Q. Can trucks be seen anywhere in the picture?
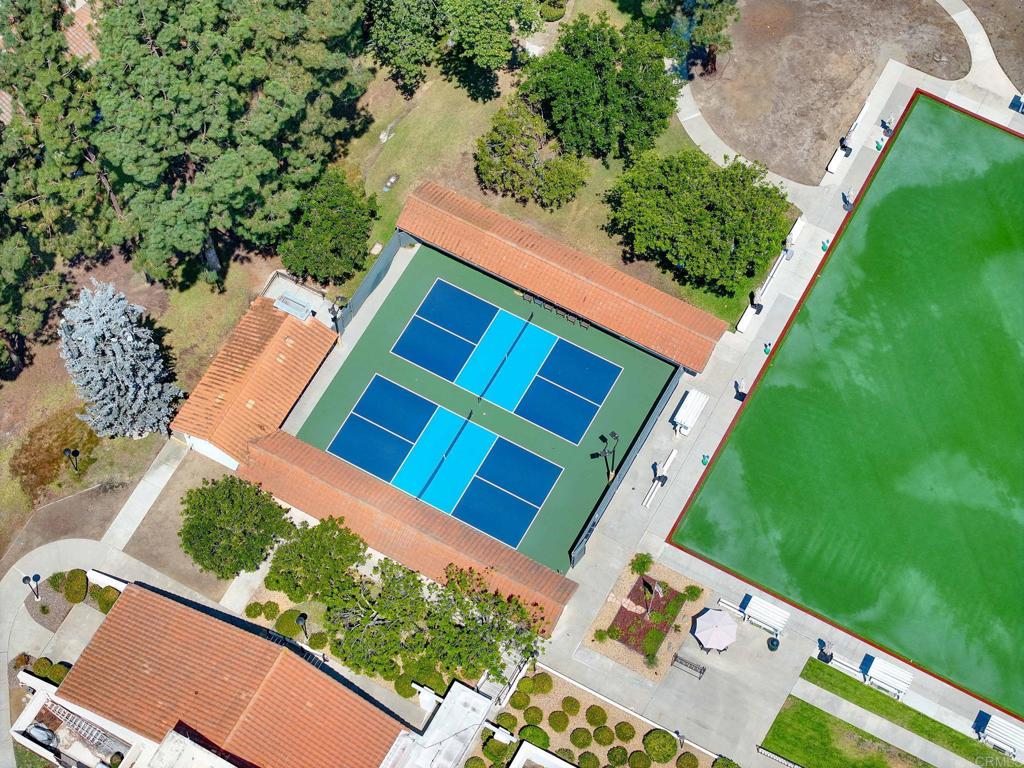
No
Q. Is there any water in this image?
No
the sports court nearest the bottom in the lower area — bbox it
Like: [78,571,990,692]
[326,373,565,549]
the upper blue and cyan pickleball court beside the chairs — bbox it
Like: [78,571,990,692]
[390,277,624,446]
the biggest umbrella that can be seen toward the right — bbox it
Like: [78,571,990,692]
[694,611,736,650]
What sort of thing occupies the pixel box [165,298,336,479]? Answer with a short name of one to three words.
house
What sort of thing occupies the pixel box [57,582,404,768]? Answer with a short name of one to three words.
house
